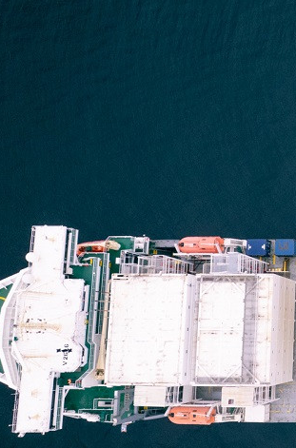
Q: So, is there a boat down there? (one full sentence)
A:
Yes, a boat is visible in the scene.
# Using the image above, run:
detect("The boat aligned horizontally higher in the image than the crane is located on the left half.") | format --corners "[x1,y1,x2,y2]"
[78,239,112,257]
